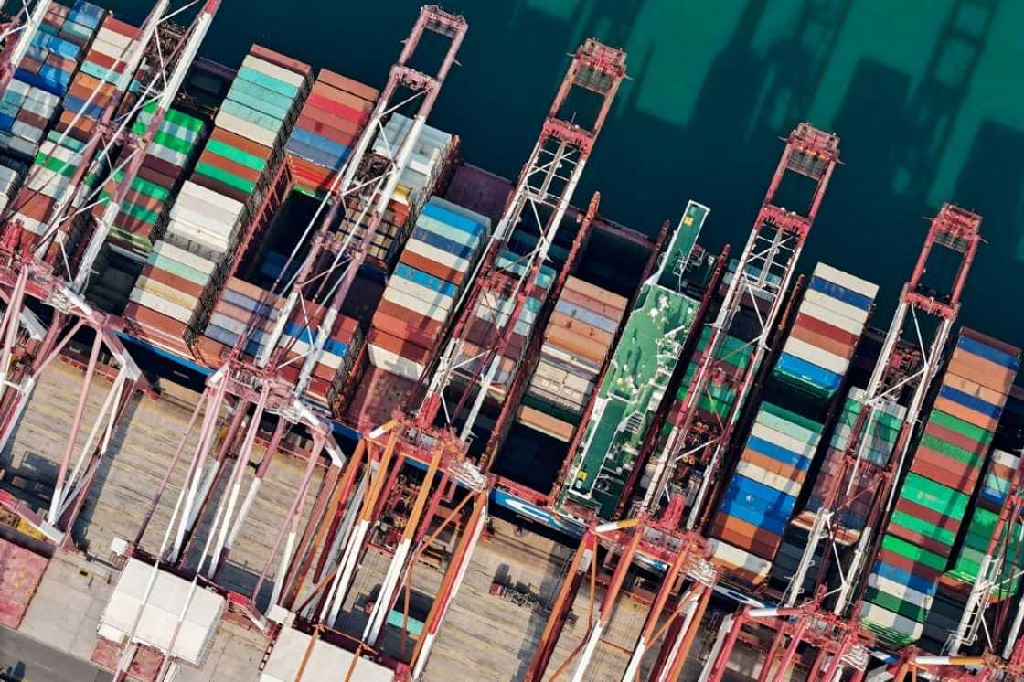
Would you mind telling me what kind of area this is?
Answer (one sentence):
This image shows a port.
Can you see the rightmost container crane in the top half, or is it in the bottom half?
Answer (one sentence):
Seen from above, the rightmost container crane lies in the bottom half of the view.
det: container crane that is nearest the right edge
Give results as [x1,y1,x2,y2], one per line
[850,428,1024,682]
